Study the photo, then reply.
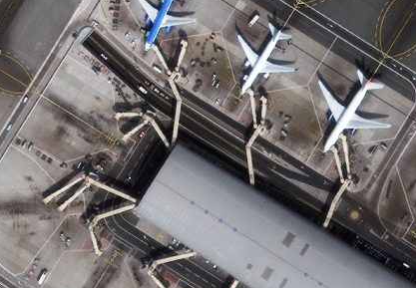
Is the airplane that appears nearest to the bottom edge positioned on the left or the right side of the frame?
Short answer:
right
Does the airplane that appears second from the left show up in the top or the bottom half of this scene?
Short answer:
top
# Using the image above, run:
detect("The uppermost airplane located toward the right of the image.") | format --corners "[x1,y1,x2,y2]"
[237,24,299,95]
